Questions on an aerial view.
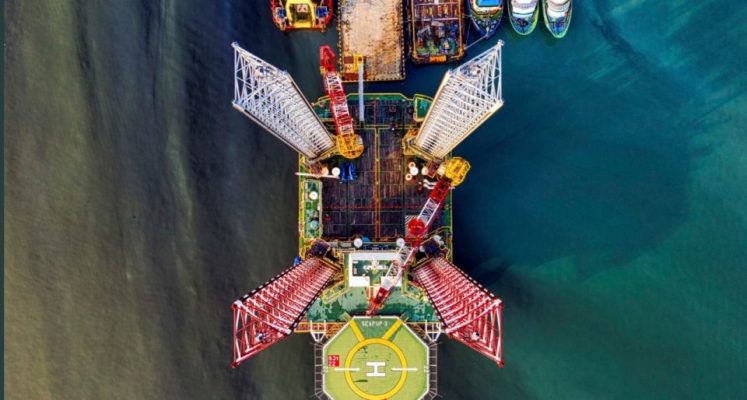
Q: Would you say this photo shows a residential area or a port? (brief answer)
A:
port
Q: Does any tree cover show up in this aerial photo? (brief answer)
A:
No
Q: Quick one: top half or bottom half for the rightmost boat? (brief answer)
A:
top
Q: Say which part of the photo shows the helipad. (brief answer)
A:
bottom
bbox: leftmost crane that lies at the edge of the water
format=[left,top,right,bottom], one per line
[314,42,365,161]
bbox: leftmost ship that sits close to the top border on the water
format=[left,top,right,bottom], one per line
[269,0,332,31]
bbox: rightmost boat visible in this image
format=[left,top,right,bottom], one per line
[540,0,574,39]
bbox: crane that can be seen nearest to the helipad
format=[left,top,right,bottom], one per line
[371,155,473,306]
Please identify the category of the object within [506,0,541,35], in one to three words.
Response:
boat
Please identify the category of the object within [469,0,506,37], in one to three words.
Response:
boat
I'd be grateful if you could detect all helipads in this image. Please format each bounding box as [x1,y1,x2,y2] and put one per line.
[311,307,444,400]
